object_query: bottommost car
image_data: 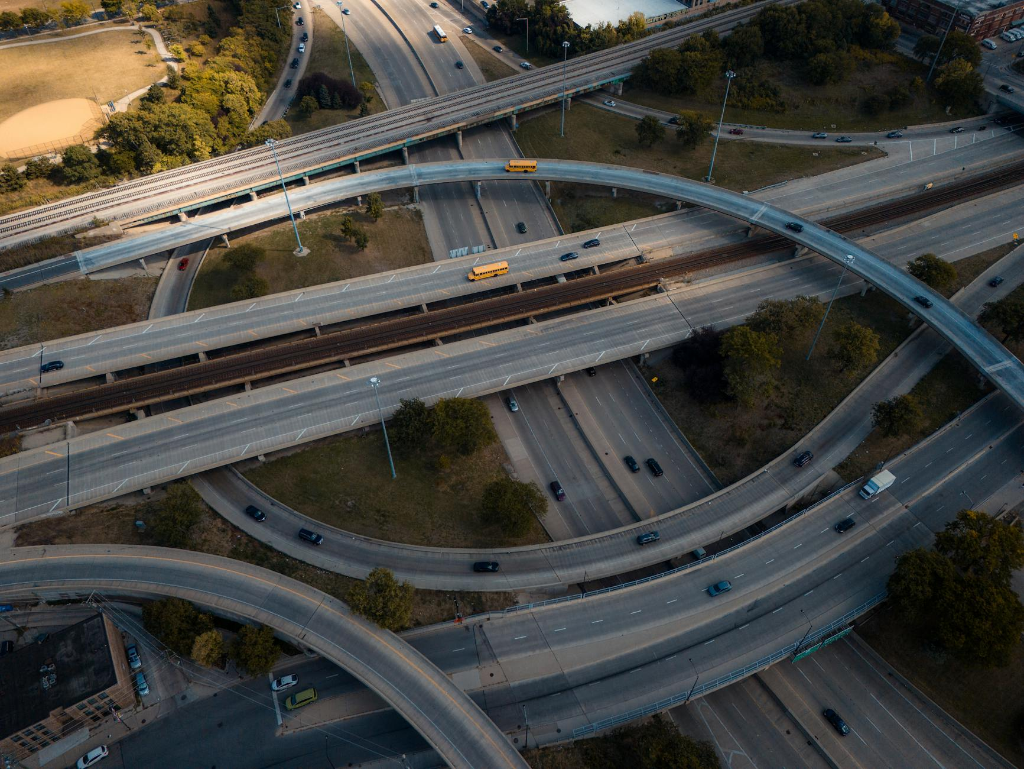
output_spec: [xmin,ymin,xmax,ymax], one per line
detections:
[76,741,113,769]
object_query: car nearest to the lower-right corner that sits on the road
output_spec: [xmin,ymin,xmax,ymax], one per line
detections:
[822,707,853,739]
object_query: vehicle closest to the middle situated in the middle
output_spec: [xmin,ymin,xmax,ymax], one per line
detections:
[505,396,520,414]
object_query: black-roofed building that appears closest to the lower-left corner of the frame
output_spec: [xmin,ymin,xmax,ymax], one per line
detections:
[0,613,136,769]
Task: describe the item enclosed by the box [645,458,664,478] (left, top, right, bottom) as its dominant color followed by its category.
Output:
black car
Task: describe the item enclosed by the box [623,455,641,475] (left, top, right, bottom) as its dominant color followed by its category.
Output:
black car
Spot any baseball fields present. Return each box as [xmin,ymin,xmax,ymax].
[0,99,101,158]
